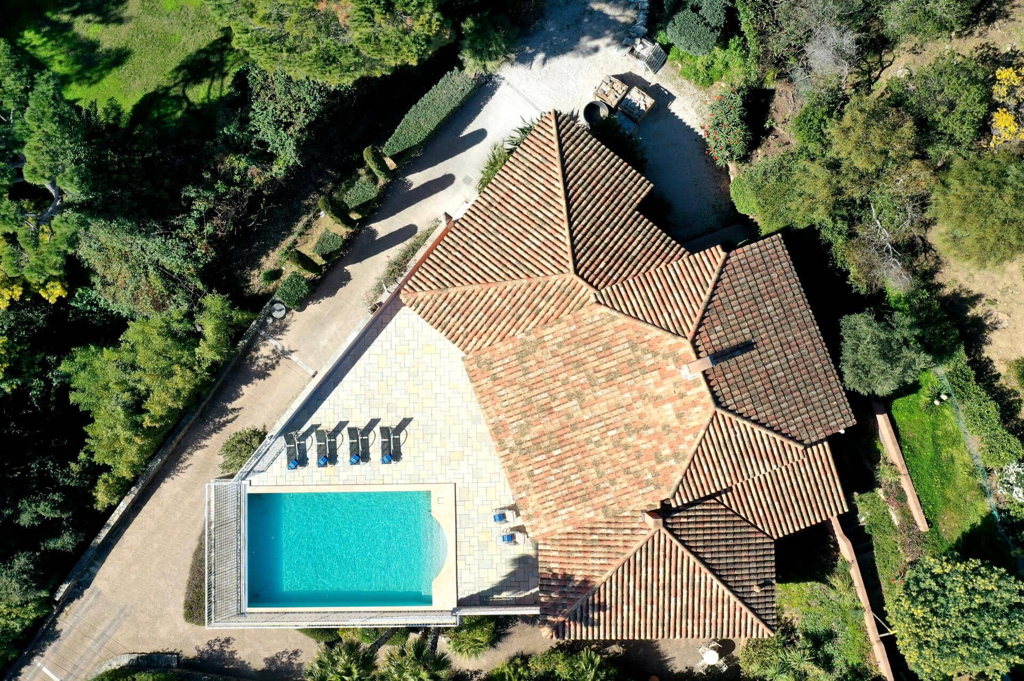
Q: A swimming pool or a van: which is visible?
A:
swimming pool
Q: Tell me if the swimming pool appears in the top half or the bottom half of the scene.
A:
bottom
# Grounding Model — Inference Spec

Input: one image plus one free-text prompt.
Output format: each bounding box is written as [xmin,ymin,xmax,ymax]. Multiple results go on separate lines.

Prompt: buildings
[398,108,856,641]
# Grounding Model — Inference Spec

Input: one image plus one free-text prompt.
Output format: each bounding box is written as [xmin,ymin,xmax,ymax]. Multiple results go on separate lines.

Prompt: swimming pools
[241,478,457,612]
